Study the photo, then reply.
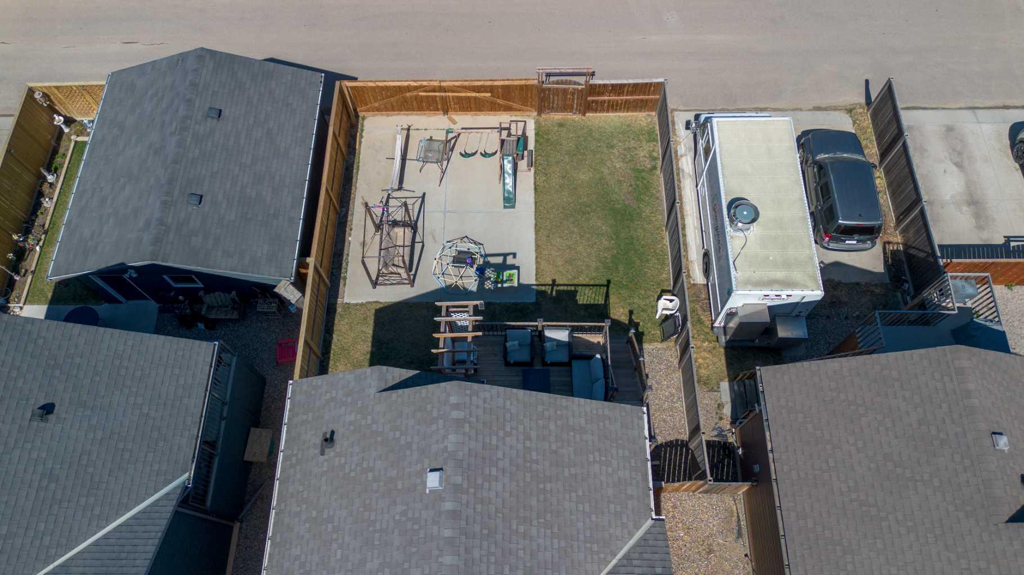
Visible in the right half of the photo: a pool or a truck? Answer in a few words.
truck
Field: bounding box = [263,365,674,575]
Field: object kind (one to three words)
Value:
house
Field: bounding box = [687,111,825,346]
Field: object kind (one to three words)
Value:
truck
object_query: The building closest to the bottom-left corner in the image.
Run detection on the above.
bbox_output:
[0,313,261,575]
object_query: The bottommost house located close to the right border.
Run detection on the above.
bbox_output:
[727,344,1024,575]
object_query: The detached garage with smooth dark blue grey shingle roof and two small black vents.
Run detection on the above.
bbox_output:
[47,46,327,307]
